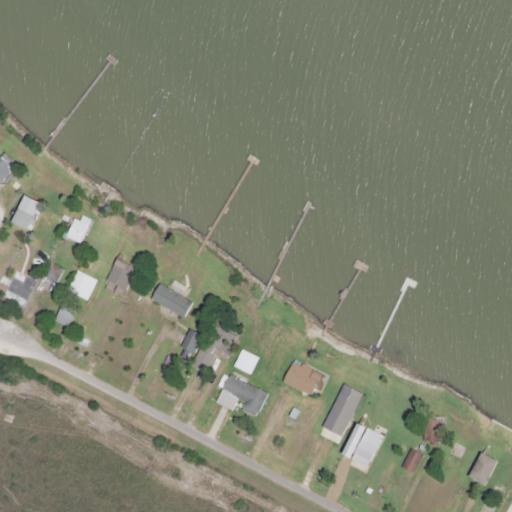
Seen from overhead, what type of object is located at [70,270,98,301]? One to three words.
building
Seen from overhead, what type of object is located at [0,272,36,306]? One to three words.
house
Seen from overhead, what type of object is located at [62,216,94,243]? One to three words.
house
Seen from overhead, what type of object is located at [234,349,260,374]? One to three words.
building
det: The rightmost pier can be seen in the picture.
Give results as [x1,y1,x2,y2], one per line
[370,278,418,360]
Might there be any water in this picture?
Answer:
Yes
